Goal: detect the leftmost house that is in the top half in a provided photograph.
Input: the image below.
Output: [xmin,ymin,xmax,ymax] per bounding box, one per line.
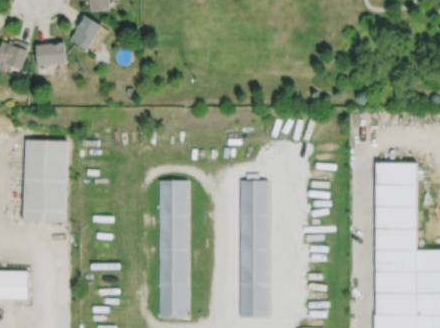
[0,38,27,71]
